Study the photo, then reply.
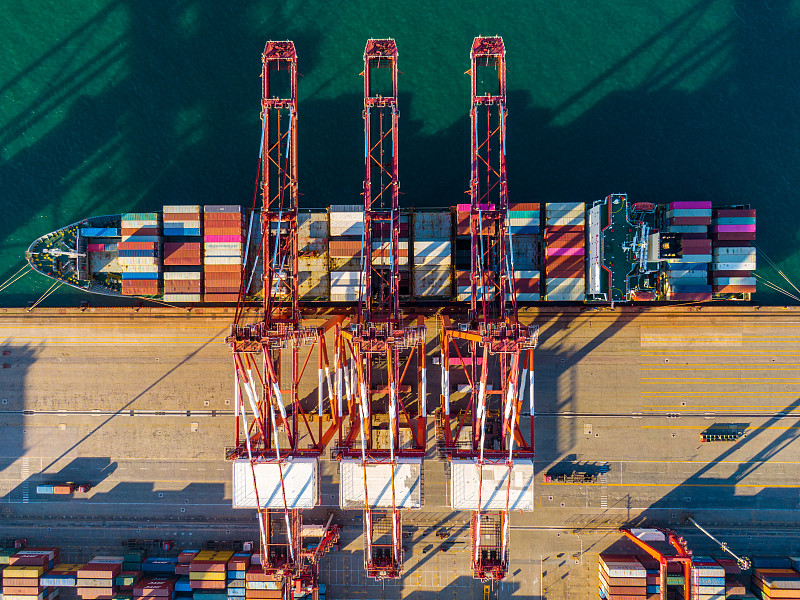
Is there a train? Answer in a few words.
No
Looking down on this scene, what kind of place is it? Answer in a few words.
port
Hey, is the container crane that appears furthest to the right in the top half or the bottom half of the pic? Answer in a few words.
bottom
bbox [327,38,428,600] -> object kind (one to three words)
container crane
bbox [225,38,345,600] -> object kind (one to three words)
container crane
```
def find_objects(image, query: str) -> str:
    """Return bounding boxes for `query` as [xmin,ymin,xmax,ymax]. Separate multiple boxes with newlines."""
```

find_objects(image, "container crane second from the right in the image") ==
[427,38,537,600]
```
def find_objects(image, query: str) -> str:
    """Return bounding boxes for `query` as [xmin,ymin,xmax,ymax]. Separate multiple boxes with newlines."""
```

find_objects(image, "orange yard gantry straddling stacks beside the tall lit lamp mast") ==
[609,527,704,600]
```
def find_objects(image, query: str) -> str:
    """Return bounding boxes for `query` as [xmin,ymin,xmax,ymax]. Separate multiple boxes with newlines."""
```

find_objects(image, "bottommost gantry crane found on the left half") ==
[277,527,347,600]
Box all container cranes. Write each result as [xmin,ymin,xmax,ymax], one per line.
[277,527,347,600]
[427,38,537,600]
[327,38,428,600]
[609,527,704,600]
[225,38,345,600]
